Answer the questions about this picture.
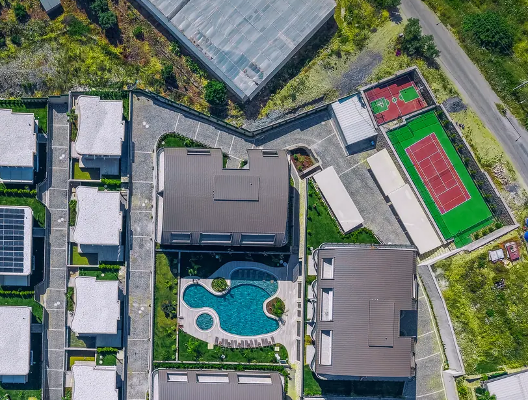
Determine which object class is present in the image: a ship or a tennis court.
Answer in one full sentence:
This aerial view contains a tennis court.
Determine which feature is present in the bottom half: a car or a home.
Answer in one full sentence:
You can see a home in the bottom half.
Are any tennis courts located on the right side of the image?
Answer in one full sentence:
Yes, I can see a tennis court on the right side of the image.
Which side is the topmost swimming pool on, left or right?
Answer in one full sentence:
You can find the topmost swimming pool on the left side of the picture.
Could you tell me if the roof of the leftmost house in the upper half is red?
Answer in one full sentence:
No, the roof of the leftmost house in the upper half is actually white.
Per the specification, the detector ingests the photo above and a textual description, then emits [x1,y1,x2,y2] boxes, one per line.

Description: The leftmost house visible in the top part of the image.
[0,109,44,181]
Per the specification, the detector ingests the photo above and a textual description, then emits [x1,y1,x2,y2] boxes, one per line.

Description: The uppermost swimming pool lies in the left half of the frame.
[70,157,101,181]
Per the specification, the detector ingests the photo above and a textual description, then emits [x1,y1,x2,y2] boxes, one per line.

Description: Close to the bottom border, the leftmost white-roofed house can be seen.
[0,306,38,383]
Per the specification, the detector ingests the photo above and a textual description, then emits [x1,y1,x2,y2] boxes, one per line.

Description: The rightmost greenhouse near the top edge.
[143,0,340,103]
